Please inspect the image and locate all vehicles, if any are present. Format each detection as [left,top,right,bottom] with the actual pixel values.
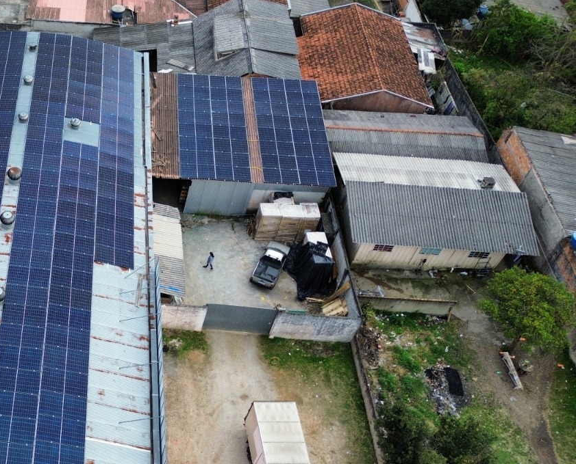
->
[257,236,293,292]
[245,399,316,464]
